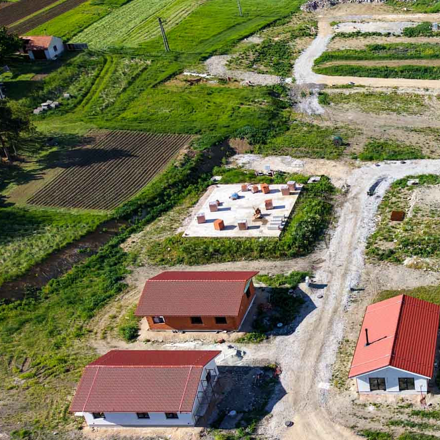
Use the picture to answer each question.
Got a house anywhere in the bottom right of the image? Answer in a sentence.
Yes, a house appears in the bottom right of the image.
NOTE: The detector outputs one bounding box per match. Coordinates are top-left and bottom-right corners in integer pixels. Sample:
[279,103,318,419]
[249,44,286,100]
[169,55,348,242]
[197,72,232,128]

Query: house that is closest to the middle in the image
[134,271,260,331]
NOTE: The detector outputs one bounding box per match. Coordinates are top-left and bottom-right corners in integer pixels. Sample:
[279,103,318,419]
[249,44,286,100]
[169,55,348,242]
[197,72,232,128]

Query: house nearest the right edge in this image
[347,293,440,394]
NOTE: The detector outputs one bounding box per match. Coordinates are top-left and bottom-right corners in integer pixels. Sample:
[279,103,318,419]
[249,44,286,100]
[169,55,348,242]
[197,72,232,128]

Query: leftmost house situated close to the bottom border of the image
[68,350,223,427]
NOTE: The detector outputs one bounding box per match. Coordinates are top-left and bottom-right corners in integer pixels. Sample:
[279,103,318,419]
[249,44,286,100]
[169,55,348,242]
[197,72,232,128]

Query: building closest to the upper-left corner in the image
[25,38,60,60]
